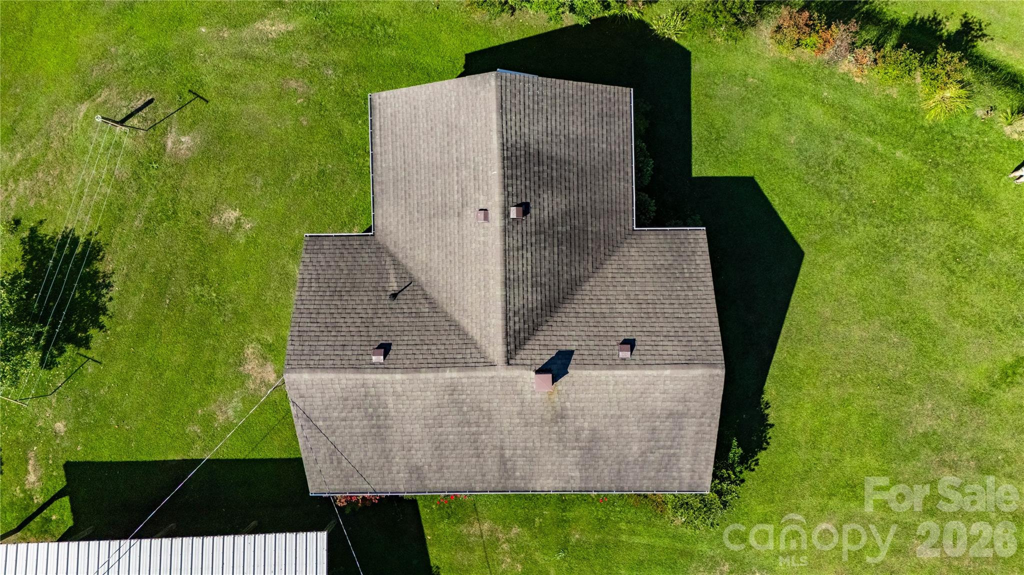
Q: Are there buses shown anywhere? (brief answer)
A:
No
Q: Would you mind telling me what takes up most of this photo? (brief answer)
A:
grass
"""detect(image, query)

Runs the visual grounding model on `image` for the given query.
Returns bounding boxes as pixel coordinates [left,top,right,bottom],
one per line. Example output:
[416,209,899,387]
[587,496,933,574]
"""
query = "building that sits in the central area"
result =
[285,68,725,497]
